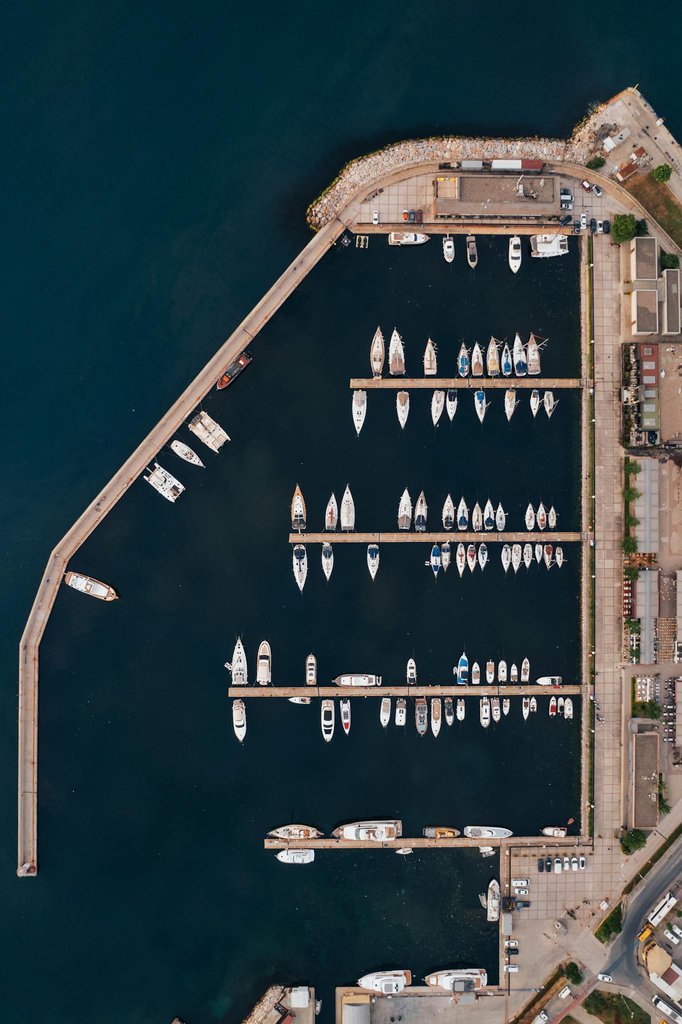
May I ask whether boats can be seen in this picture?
Yes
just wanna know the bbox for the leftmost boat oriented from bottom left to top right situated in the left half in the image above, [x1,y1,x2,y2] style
[217,354,250,389]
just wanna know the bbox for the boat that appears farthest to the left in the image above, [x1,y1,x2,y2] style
[62,572,115,600]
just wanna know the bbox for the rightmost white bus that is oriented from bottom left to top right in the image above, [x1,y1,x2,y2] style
[647,892,678,927]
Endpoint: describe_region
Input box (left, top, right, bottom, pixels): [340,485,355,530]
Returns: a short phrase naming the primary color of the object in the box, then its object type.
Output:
white boat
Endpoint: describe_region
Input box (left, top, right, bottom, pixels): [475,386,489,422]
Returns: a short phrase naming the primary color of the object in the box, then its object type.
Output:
white boat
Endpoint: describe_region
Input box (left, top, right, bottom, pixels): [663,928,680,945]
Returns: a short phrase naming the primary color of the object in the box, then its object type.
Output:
white vehicle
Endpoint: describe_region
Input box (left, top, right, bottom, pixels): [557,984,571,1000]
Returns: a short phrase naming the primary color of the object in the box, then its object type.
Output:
white vehicle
